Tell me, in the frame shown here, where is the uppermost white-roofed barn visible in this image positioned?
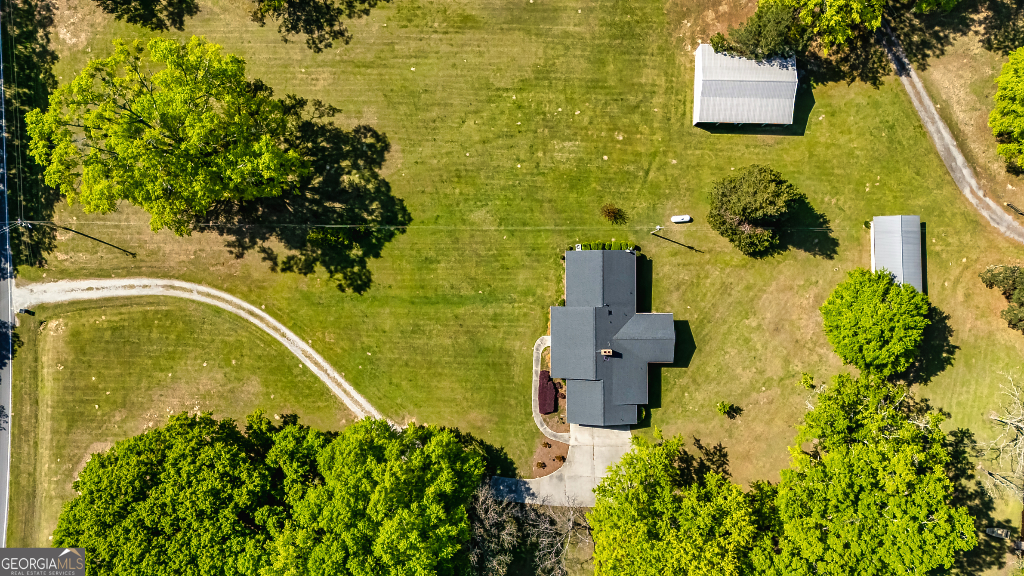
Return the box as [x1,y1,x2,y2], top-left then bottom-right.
[694,42,800,127]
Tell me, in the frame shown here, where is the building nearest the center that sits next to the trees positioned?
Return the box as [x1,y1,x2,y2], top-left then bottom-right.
[550,250,675,426]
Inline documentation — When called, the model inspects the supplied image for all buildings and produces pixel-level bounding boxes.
[694,42,800,127]
[870,215,921,300]
[550,250,675,426]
